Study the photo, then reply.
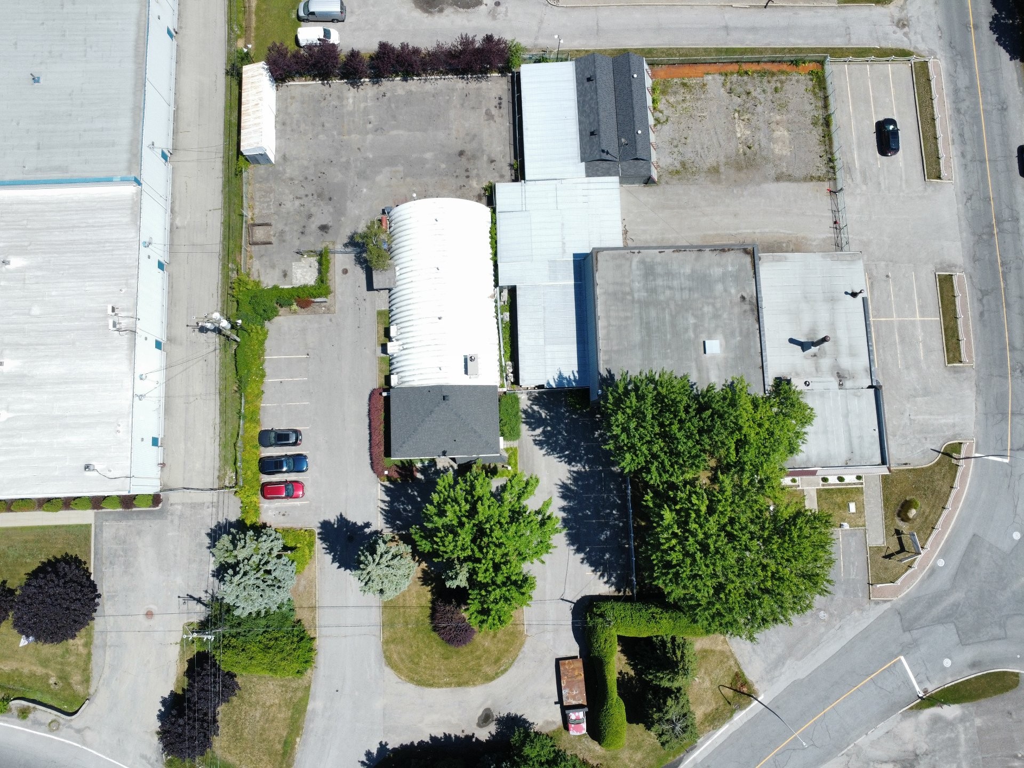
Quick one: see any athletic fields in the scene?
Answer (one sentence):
No, there is no athletic field in the image.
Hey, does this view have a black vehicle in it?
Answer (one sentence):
Yes, you can see a black vehicle in this photo.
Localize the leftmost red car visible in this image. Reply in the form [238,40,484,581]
[260,479,307,500]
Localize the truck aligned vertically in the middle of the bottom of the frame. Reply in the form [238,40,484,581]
[558,654,587,735]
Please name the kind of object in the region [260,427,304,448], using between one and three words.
car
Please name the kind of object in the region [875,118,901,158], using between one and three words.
car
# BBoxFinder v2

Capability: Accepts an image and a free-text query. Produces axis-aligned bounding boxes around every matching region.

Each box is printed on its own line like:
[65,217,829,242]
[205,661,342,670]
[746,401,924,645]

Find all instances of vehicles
[296,23,341,48]
[297,0,348,22]
[260,427,304,448]
[259,452,311,474]
[260,479,307,500]
[558,654,587,735]
[875,118,901,158]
